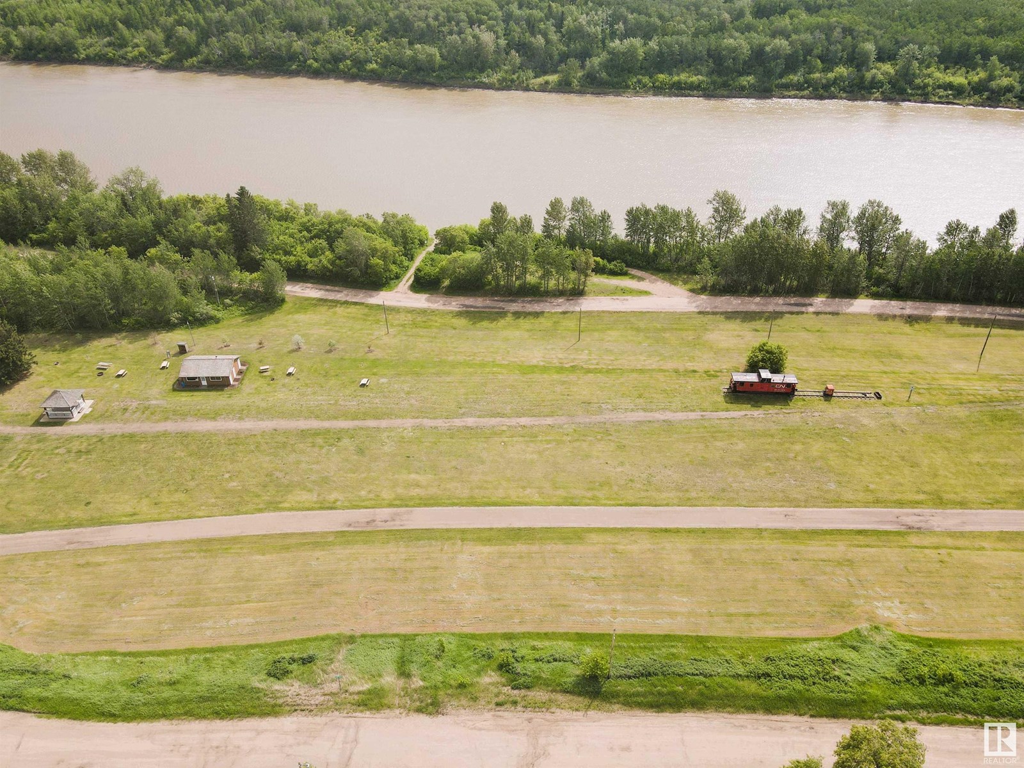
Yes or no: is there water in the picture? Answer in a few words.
Yes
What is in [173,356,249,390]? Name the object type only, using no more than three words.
building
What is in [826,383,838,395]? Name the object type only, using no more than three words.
rail car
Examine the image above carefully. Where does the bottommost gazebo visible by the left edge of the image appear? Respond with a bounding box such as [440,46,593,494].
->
[39,389,96,421]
